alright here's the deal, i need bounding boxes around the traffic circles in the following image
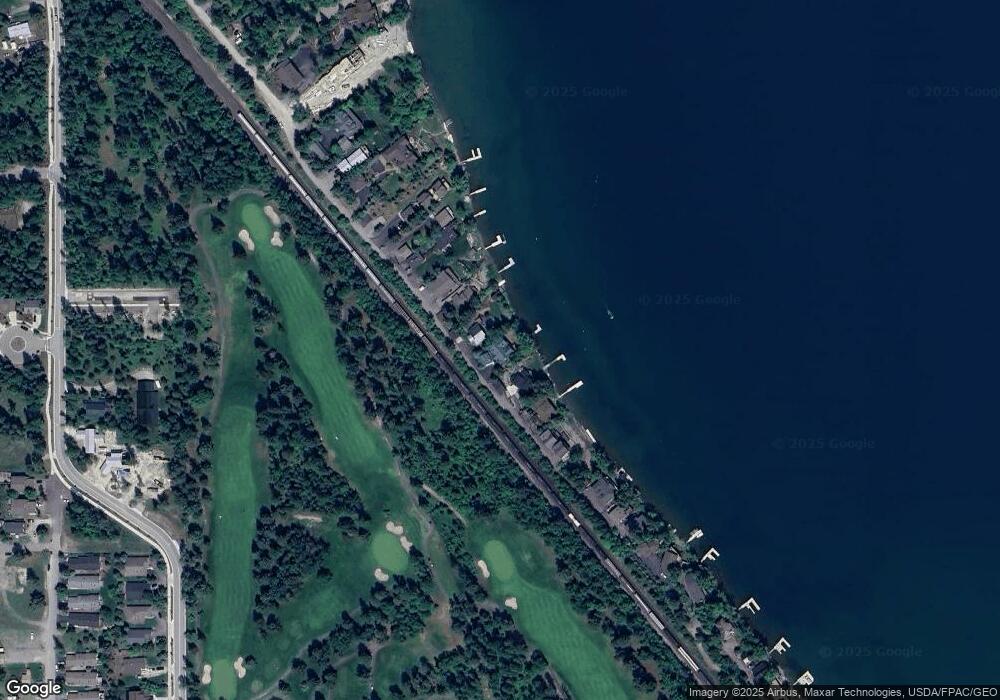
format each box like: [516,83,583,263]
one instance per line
[0,325,36,362]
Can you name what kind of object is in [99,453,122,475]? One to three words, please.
barn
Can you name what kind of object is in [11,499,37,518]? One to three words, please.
house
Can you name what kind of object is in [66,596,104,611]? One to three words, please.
house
